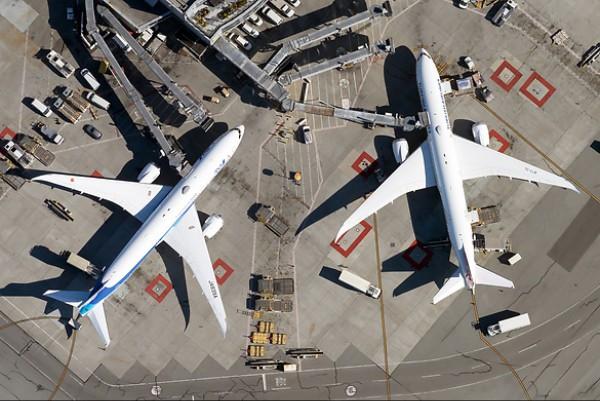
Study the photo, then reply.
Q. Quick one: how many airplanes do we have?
2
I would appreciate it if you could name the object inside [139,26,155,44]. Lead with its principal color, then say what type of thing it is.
white vehicle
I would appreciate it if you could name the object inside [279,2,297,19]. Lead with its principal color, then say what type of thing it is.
white car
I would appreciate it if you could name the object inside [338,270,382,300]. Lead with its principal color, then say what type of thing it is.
white truck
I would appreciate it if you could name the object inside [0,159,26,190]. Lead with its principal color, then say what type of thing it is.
gray work vehicle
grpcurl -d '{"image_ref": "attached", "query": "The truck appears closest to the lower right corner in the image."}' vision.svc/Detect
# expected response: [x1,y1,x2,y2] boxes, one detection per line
[486,313,531,337]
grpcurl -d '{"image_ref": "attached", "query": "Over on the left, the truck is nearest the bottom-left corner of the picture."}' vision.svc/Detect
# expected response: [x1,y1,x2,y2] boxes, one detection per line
[63,254,97,279]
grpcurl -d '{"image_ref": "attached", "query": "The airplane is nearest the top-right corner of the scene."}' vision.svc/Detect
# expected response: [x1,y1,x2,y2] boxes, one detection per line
[335,49,582,308]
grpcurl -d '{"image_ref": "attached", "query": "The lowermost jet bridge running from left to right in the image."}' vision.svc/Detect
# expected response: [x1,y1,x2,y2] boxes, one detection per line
[279,96,425,131]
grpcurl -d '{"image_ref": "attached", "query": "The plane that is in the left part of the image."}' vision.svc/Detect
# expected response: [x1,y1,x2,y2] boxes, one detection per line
[32,125,244,351]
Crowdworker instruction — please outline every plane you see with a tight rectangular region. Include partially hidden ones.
[335,49,582,308]
[32,125,244,351]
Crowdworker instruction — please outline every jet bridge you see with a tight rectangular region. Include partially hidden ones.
[279,96,425,131]
[93,0,214,130]
[83,0,193,174]
[275,38,393,89]
[261,0,390,75]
